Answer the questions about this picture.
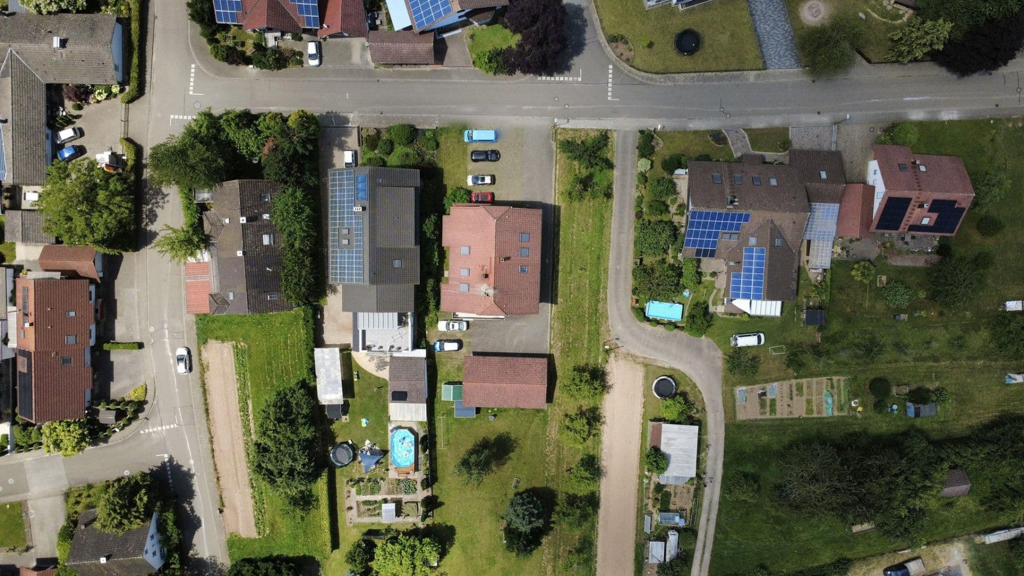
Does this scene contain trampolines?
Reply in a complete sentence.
Yes, the picture does show a trampoline.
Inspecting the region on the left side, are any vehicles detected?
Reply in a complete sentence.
Yes, you'll find a vehicle on the left side.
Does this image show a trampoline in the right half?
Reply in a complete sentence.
Yes, there is a trampoline in the right half.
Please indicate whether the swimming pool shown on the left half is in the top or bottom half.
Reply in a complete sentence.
The swimming pool shown on the left half is in the bottom half of the image.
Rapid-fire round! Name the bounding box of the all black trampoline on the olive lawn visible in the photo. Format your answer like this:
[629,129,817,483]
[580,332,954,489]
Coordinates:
[674,26,702,56]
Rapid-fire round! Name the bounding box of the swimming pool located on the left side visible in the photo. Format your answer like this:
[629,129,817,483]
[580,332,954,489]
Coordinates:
[391,427,417,479]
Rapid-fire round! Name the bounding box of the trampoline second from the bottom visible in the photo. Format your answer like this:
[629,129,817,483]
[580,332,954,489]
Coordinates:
[653,376,676,399]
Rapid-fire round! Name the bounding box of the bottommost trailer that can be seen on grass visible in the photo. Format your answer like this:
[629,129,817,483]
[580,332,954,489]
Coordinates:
[970,521,1024,546]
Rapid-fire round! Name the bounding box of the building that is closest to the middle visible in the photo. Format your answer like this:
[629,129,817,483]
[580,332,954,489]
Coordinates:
[441,202,542,322]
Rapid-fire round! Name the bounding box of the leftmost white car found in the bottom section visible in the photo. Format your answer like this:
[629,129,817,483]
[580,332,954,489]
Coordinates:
[176,347,190,375]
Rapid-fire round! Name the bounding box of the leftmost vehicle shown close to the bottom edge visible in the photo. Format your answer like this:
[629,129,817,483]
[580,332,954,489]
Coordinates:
[884,555,926,576]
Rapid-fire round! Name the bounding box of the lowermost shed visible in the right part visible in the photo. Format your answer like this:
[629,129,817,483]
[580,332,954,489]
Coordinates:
[648,539,664,562]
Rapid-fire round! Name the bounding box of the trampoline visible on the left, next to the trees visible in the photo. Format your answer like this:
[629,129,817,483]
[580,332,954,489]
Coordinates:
[328,442,355,470]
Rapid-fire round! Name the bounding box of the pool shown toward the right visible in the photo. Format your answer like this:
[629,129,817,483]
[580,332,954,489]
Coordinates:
[645,299,683,323]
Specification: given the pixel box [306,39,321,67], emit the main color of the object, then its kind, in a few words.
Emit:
white car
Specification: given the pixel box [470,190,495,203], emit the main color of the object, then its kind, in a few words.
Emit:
red vehicle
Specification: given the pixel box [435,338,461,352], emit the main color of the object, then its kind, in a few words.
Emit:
white car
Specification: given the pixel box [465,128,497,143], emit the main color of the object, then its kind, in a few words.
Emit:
blue vehicle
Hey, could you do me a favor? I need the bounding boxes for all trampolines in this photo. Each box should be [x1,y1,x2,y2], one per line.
[328,442,355,470]
[674,26,702,56]
[653,376,676,399]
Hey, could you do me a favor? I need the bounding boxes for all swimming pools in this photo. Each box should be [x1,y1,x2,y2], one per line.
[645,299,683,323]
[391,427,417,479]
